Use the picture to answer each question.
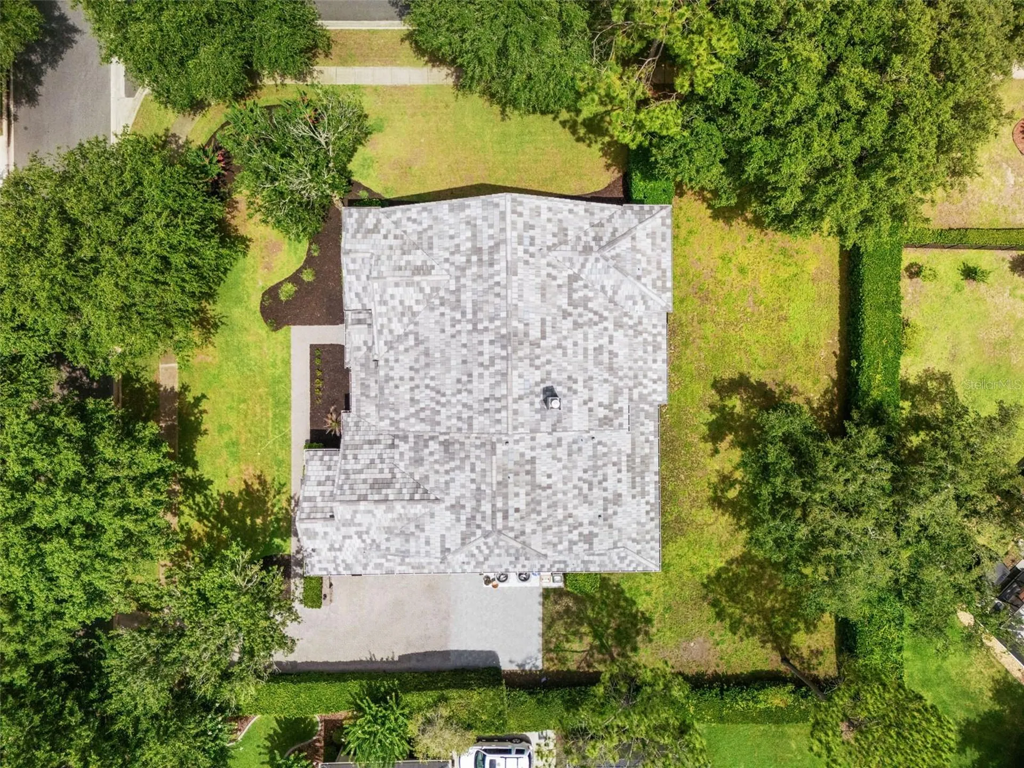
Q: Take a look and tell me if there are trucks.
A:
No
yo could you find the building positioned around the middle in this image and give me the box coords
[295,192,674,577]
